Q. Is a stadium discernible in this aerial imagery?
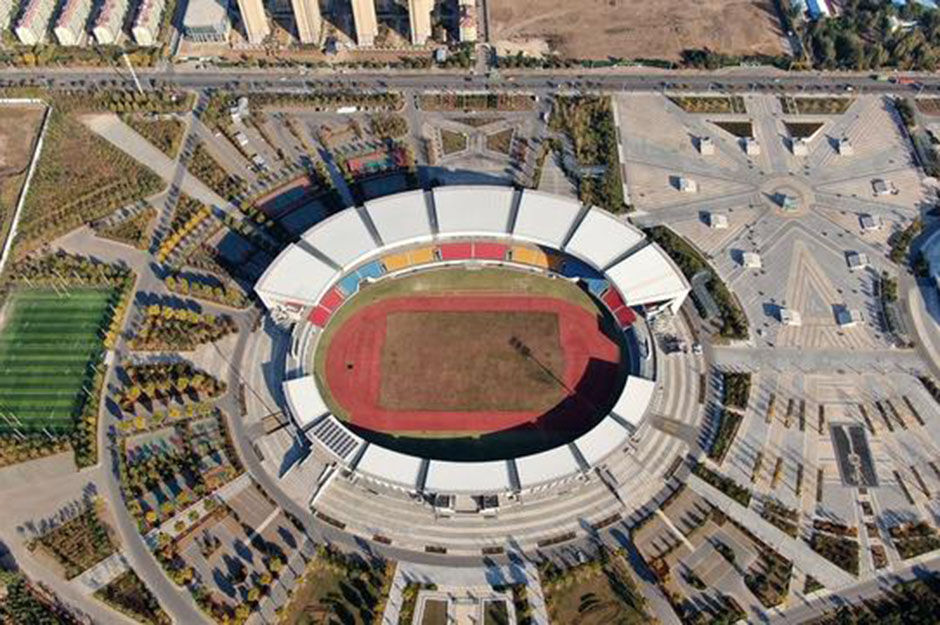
Yes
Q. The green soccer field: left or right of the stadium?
to the left of it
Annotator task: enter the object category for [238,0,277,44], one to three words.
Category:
building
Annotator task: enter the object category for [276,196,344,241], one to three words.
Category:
sports court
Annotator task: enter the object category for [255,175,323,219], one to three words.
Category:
sports court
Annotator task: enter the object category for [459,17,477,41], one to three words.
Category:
house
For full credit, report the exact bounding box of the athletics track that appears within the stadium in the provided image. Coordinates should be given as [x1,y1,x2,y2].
[314,262,631,462]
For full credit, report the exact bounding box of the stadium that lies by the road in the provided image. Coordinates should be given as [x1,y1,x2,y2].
[238,185,716,557]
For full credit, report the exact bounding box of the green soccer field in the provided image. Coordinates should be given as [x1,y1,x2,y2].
[0,289,120,436]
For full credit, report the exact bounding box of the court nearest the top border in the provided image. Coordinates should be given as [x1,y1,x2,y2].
[347,143,412,175]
